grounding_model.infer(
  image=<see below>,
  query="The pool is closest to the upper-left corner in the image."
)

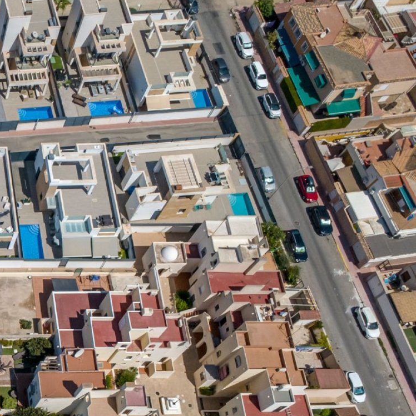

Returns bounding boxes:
[19,105,53,120]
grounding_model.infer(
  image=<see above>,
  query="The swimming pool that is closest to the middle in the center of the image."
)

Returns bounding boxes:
[228,192,255,215]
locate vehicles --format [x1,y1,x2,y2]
[285,230,308,264]
[308,204,333,238]
[212,58,230,84]
[344,371,368,405]
[295,174,318,203]
[234,31,252,59]
[247,63,268,90]
[352,305,381,341]
[261,93,282,119]
[255,166,276,194]
[179,0,199,16]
